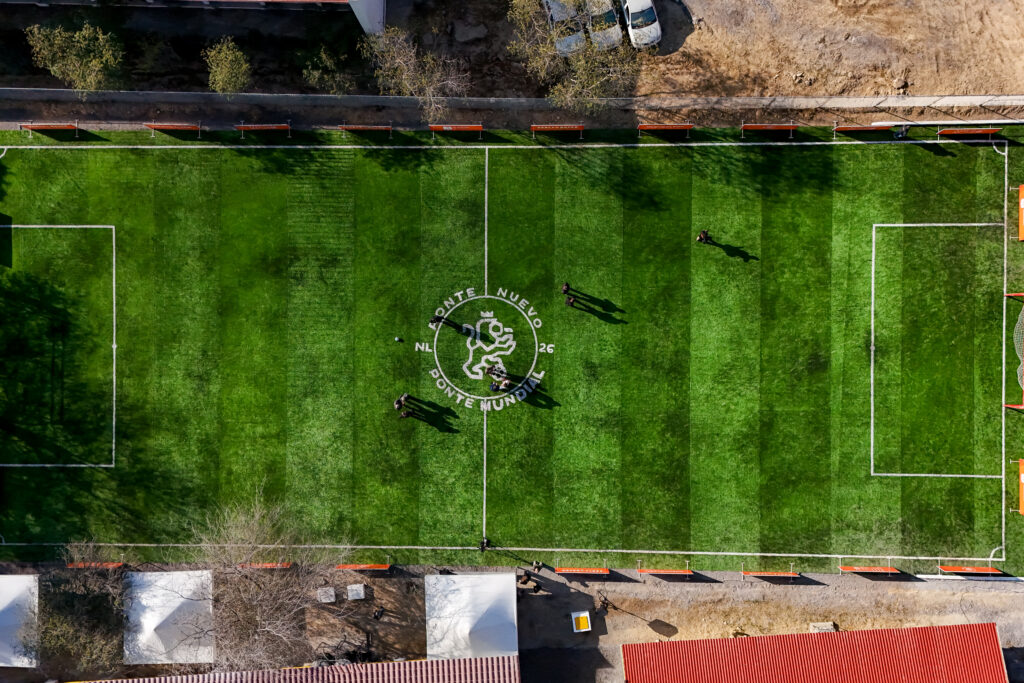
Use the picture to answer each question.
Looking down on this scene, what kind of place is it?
sports ground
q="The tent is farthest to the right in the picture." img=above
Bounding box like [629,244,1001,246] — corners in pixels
[425,559,520,661]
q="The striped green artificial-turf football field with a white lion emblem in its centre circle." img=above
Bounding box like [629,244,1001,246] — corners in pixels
[0,124,1024,577]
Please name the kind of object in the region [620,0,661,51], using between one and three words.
car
